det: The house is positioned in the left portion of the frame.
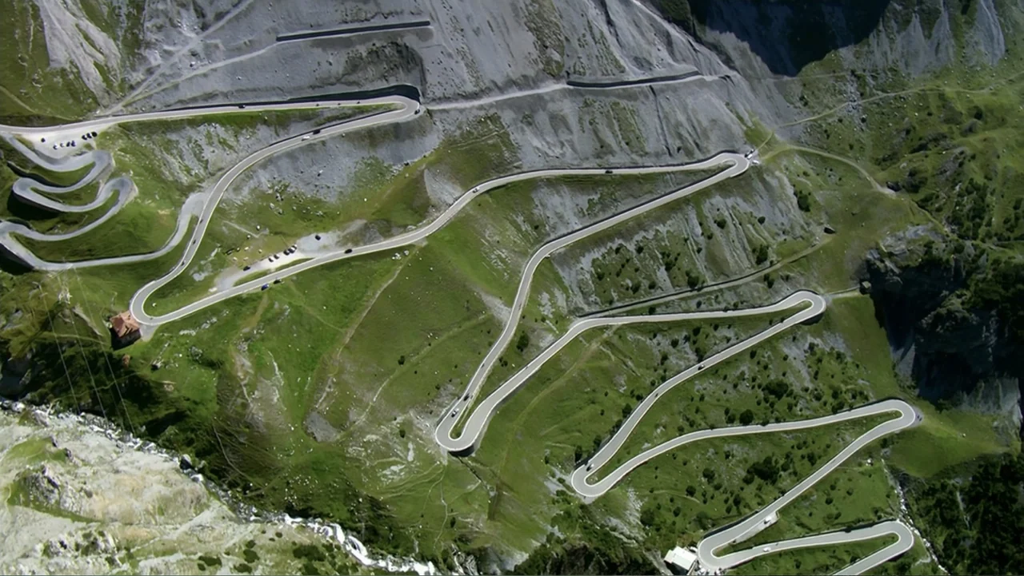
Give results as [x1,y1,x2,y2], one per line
[106,311,140,351]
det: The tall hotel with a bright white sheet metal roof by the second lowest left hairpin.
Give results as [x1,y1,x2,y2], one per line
[660,546,699,575]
